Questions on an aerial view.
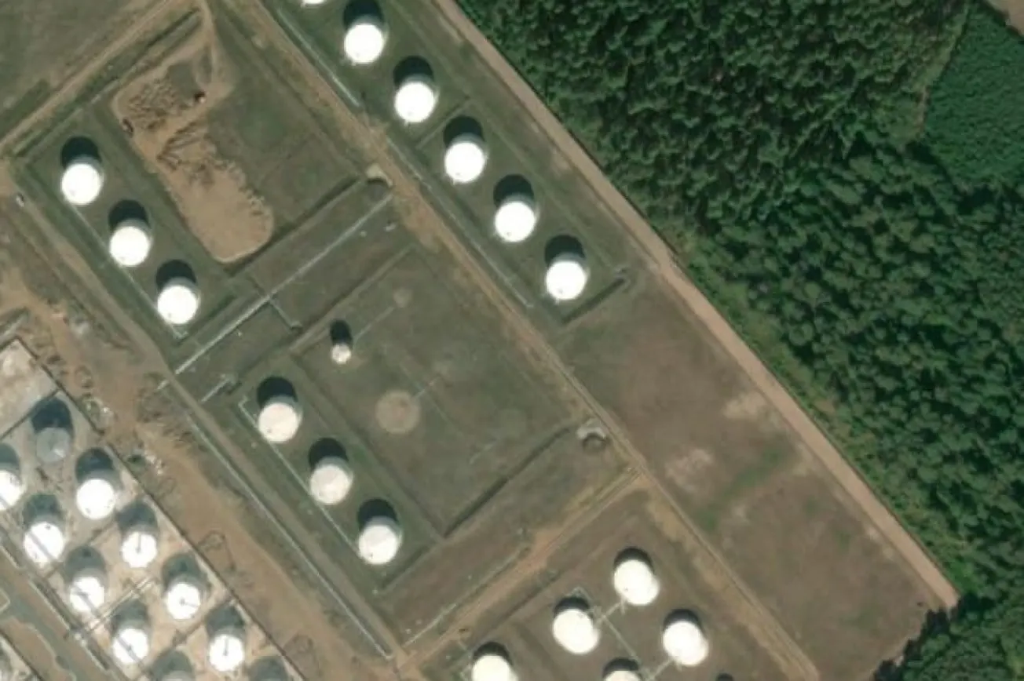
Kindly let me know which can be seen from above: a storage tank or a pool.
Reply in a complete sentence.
It is a storage tank that can be seen here.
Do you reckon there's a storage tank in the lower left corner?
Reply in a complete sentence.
Yes, in the lower left corner there is a storage tank.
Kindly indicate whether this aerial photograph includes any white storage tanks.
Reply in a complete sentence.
Yes, the photo shows a white storage tank.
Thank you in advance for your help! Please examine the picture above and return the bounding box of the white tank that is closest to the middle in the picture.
[545,251,591,302]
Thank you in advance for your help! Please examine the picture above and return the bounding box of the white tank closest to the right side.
[662,616,709,666]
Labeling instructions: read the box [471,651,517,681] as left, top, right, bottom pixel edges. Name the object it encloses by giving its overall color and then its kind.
white storage tank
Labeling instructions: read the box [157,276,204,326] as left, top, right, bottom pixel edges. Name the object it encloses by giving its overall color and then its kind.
white storage tank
